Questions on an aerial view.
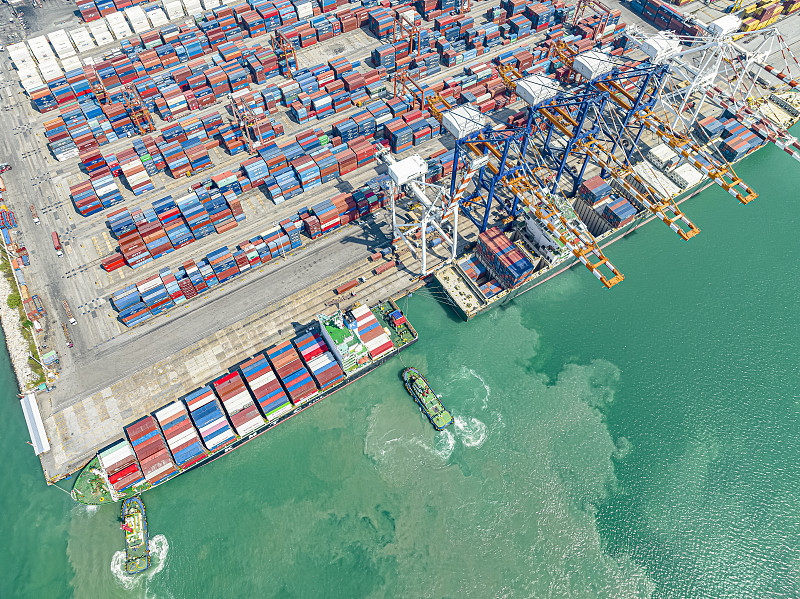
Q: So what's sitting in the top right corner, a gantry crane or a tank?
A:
gantry crane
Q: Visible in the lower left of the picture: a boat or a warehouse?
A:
boat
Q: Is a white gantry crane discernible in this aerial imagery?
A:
Yes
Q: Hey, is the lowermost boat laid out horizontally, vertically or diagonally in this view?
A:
vertically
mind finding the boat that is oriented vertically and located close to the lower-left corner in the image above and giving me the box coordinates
[115,499,153,578]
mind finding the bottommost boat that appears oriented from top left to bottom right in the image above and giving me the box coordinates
[402,369,454,430]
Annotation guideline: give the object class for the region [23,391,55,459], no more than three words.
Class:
shed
